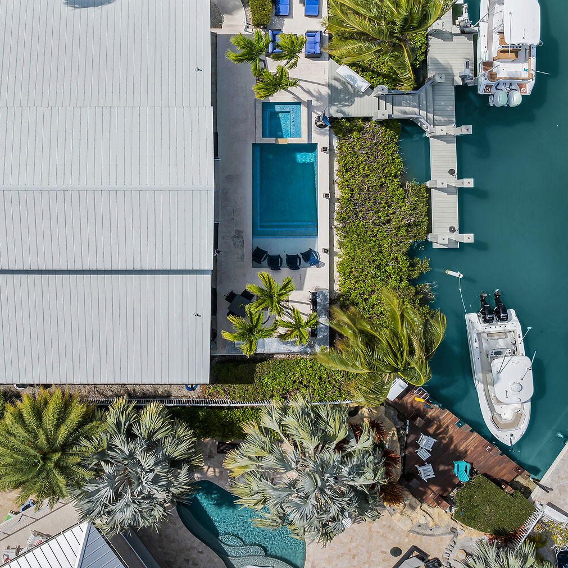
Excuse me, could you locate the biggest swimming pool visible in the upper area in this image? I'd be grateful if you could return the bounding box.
[248,143,322,273]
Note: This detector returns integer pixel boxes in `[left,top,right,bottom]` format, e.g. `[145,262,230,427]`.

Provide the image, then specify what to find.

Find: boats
[467,288,535,451]
[475,0,549,107]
